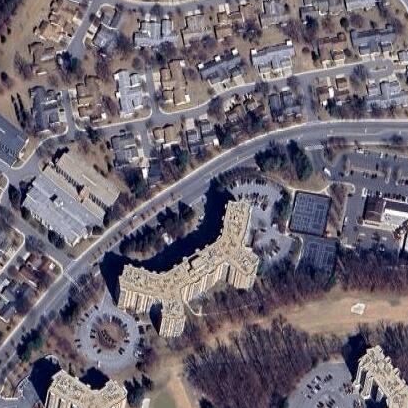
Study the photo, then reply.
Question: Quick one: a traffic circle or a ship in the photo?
traffic circle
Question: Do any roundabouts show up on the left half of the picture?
Yes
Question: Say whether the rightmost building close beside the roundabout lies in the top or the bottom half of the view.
bottom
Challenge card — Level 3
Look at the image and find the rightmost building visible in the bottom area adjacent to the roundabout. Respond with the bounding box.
[117,200,260,337]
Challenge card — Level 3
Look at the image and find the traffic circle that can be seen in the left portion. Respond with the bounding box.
[75,303,141,369]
